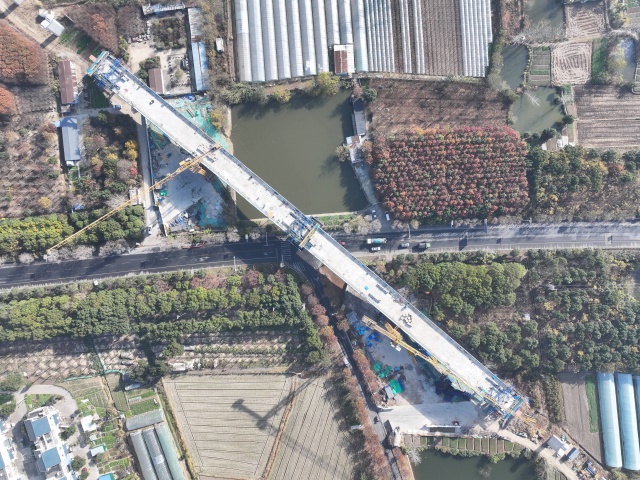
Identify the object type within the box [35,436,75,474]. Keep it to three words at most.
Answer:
house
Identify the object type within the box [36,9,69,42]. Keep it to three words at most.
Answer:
building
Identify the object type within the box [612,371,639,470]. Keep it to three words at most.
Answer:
greenhouse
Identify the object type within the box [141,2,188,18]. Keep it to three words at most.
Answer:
shed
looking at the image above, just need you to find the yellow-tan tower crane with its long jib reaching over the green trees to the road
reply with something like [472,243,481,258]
[46,142,226,254]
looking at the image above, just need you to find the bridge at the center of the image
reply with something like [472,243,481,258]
[93,53,521,416]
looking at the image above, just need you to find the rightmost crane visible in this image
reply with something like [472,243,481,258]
[362,311,507,413]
